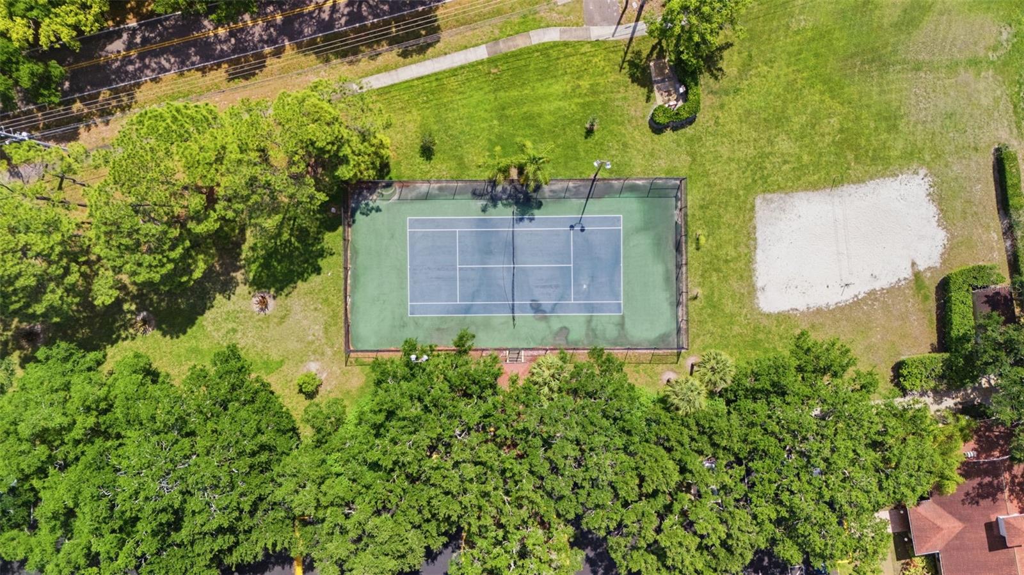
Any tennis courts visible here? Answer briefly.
Yes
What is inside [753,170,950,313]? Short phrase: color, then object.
white sports court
